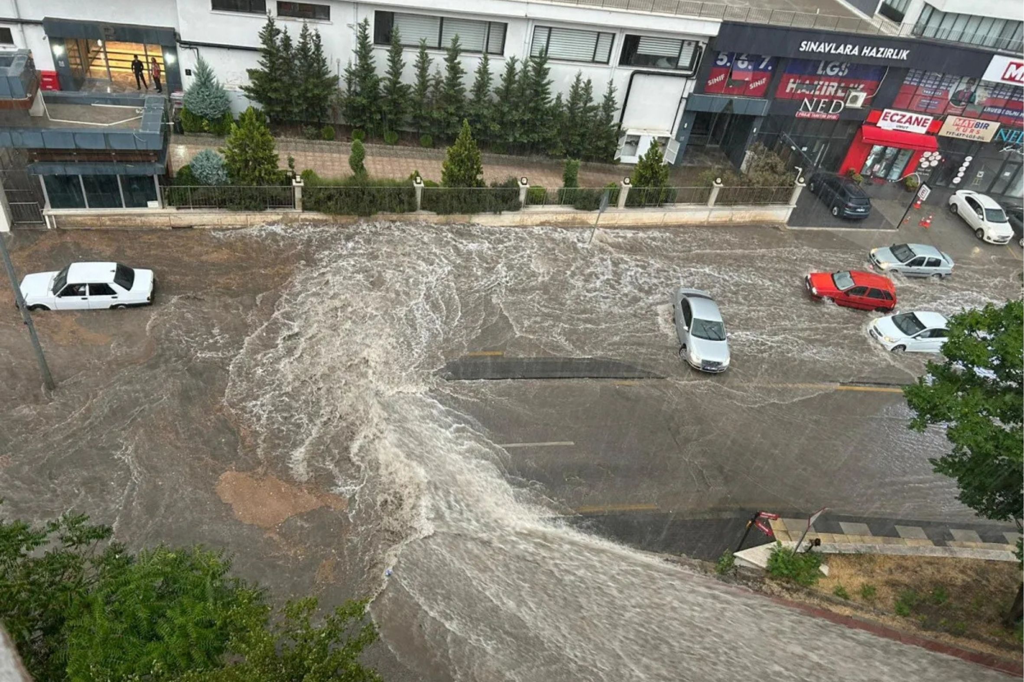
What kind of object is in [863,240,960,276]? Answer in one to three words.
car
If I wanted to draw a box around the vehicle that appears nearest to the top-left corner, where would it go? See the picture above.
[23,260,156,310]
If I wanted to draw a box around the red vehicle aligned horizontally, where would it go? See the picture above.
[802,267,900,311]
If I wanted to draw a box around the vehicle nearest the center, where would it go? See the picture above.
[674,284,734,372]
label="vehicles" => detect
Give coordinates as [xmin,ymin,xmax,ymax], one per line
[802,267,900,311]
[866,310,975,355]
[1000,200,1024,239]
[674,284,734,372]
[23,260,156,310]
[944,190,1019,248]
[863,240,960,276]
[804,170,883,226]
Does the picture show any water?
Yes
